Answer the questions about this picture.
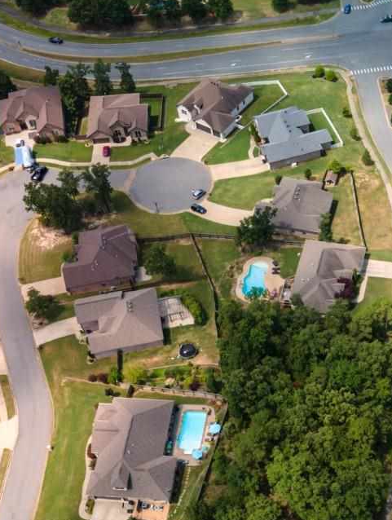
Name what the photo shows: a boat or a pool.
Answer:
pool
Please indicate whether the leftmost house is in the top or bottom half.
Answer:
top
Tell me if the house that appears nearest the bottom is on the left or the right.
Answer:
left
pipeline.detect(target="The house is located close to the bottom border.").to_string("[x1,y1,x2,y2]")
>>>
[85,399,178,507]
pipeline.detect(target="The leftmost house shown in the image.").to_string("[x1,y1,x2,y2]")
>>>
[0,89,68,141]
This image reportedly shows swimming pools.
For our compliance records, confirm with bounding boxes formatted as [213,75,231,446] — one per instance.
[235,256,285,303]
[174,405,215,465]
